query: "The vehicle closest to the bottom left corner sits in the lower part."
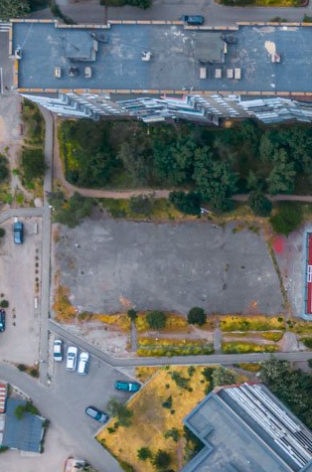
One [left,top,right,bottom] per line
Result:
[86,407,107,422]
